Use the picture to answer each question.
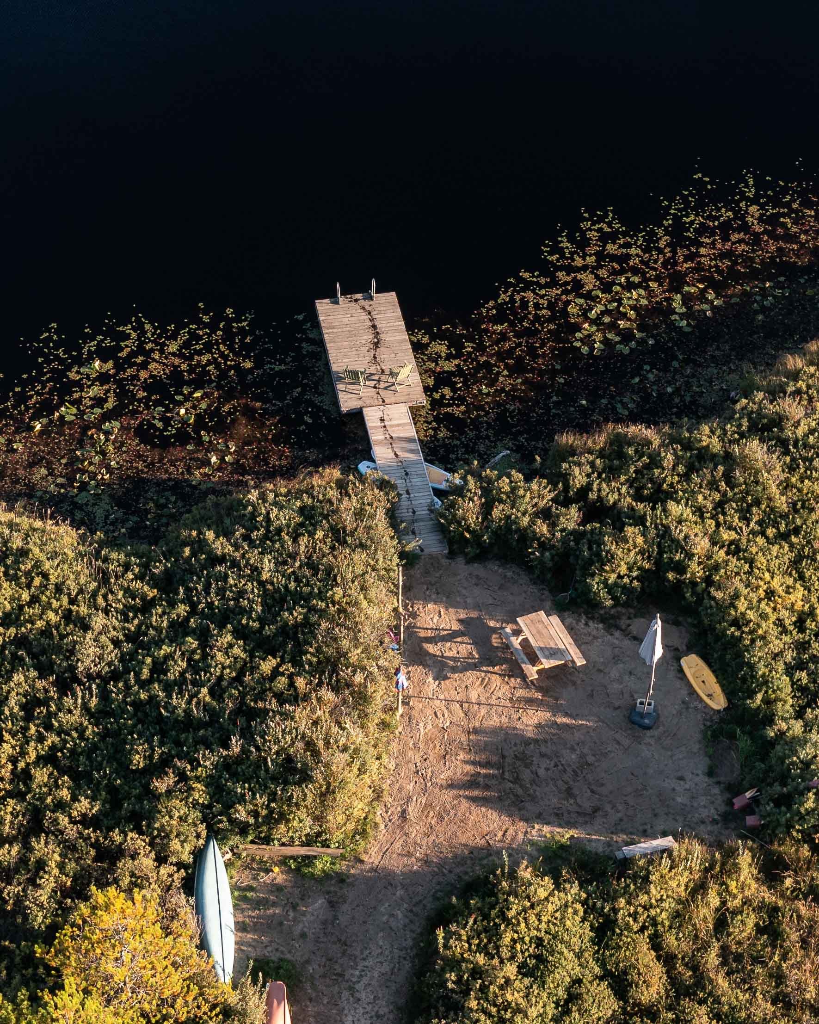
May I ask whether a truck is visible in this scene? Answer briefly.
No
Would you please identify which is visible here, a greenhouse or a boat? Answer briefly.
boat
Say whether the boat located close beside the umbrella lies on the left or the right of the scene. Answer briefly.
right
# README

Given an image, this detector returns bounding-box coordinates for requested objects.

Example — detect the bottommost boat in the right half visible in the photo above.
[678,645,729,709]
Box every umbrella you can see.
[634,612,661,708]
